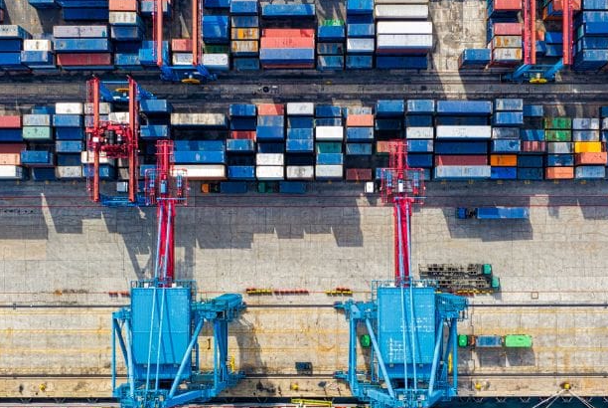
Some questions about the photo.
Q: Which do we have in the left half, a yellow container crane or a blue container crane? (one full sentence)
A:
What appears in the left half is a blue container crane.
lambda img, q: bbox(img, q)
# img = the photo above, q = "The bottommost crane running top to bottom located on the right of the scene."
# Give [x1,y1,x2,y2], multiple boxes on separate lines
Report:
[334,140,462,408]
